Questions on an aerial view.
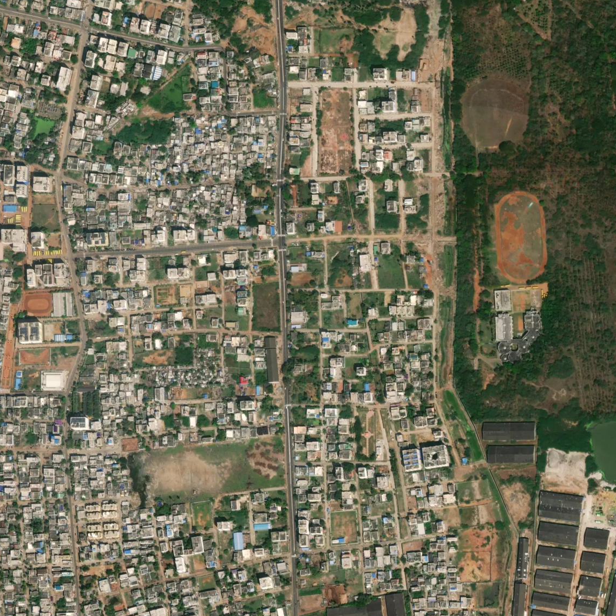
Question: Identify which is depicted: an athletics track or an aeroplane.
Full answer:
Of the two, only an athletics track appears.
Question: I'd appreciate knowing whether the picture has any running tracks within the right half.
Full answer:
Yes, I can see a running track within the right half.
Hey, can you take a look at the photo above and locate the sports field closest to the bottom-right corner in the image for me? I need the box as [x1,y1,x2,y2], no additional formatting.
[333,511,358,543]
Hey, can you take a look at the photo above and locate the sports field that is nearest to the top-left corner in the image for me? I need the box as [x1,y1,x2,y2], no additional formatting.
[34,205,60,231]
